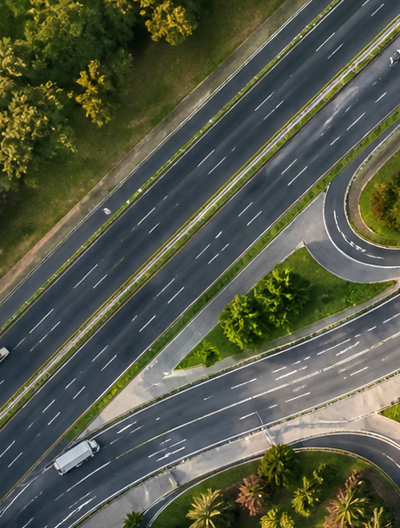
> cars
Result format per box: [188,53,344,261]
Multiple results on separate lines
[389,46,400,64]
[0,346,9,363]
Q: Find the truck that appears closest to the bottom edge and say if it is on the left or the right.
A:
left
